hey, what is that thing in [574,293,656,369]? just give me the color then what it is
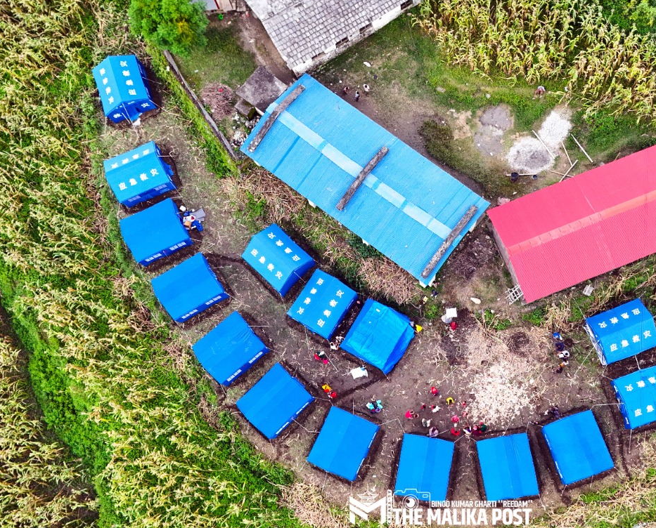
blue tent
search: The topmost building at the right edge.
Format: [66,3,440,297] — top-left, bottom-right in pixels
[487,146,656,303]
